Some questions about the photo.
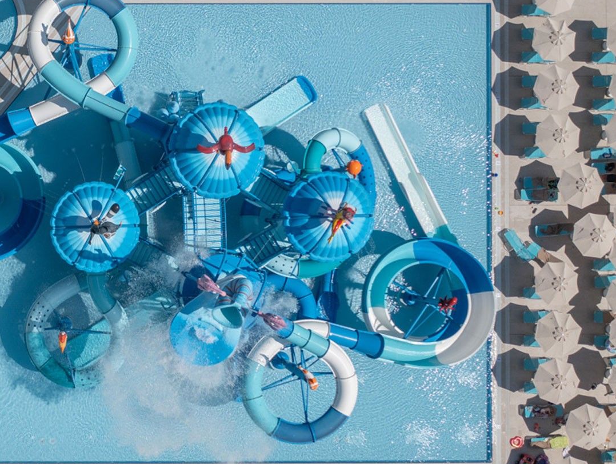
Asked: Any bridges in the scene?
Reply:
Yes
